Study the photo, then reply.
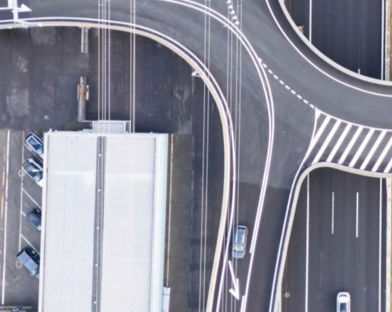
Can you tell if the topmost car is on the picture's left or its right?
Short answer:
left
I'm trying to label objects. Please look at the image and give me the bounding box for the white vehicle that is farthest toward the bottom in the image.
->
[337,293,350,312]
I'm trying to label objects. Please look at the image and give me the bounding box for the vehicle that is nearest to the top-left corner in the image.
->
[19,129,42,157]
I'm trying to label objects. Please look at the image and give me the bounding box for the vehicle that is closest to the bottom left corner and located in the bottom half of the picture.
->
[13,245,38,276]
